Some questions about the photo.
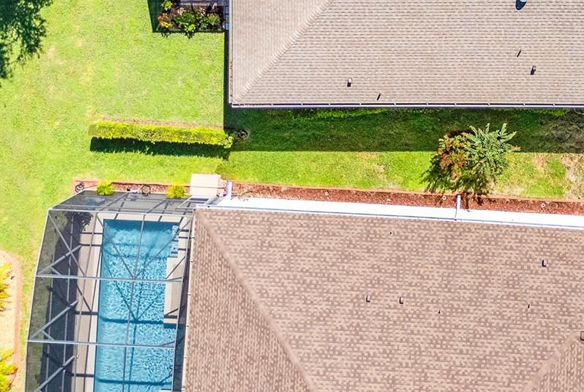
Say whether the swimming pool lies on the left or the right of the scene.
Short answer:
left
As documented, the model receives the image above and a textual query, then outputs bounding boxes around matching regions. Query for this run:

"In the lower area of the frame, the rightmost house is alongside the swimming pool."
[183,180,584,392]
